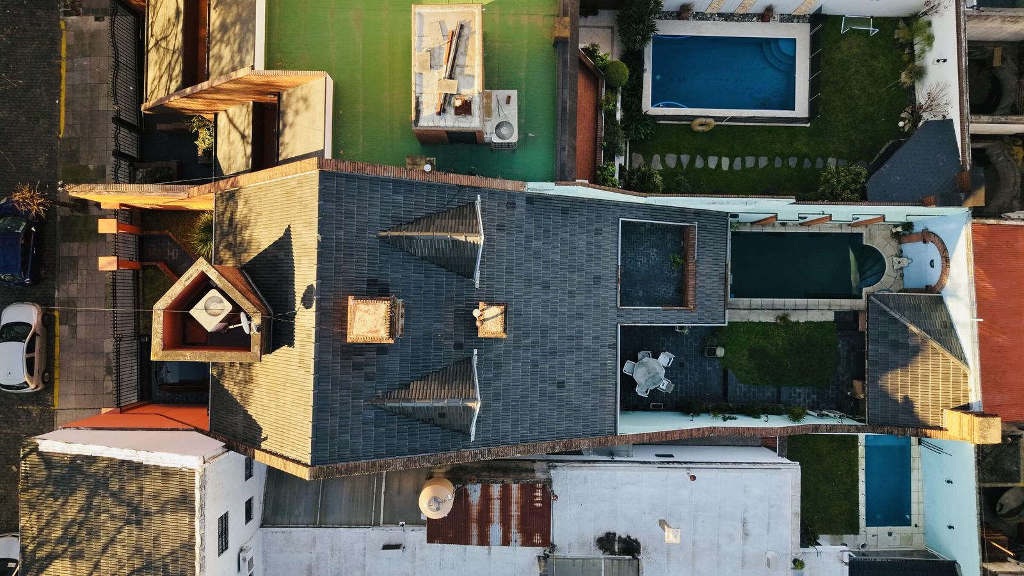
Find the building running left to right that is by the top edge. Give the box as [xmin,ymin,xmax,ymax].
[145,0,579,187]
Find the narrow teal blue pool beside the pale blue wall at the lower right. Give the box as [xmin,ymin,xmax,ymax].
[818,434,925,549]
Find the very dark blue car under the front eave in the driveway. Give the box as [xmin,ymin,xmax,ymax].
[154,362,210,402]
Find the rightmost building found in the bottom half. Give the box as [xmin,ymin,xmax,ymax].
[845,292,958,423]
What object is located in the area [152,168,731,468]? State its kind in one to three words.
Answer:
house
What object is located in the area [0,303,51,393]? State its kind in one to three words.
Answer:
car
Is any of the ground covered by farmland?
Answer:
No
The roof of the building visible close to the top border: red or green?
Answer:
green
